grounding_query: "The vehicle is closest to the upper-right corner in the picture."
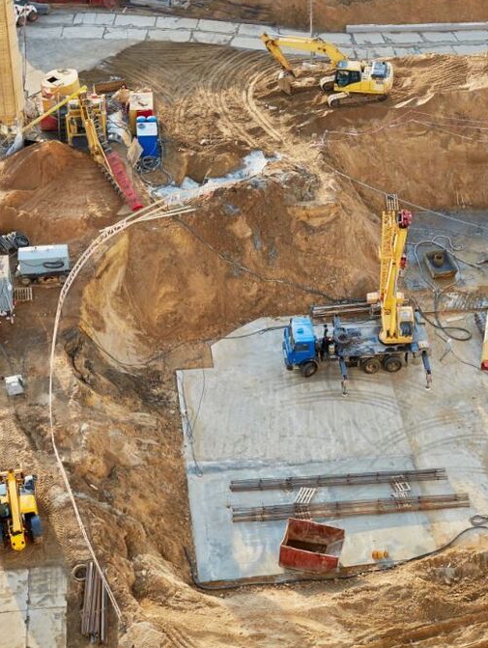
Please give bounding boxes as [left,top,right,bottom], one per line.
[256,29,395,106]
